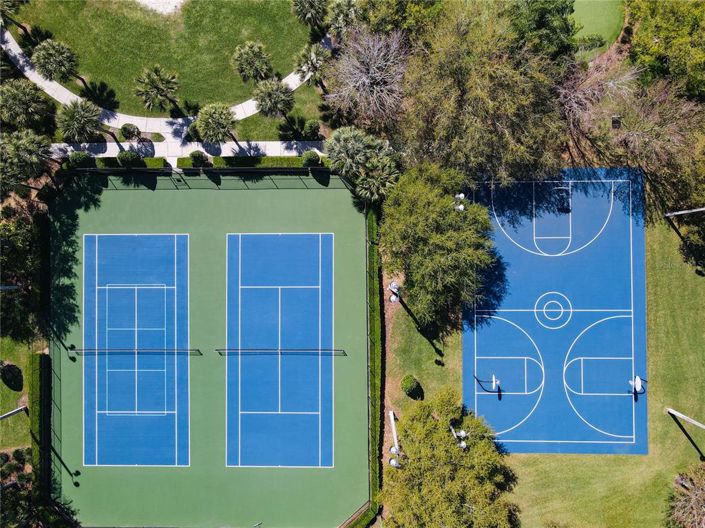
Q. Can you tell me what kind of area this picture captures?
sports ground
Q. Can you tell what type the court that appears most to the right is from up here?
basketball court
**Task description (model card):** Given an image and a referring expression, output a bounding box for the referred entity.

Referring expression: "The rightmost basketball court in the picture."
[461,167,648,454]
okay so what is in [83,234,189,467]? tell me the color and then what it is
blue tennis court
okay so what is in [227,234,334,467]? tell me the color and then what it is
blue tennis court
